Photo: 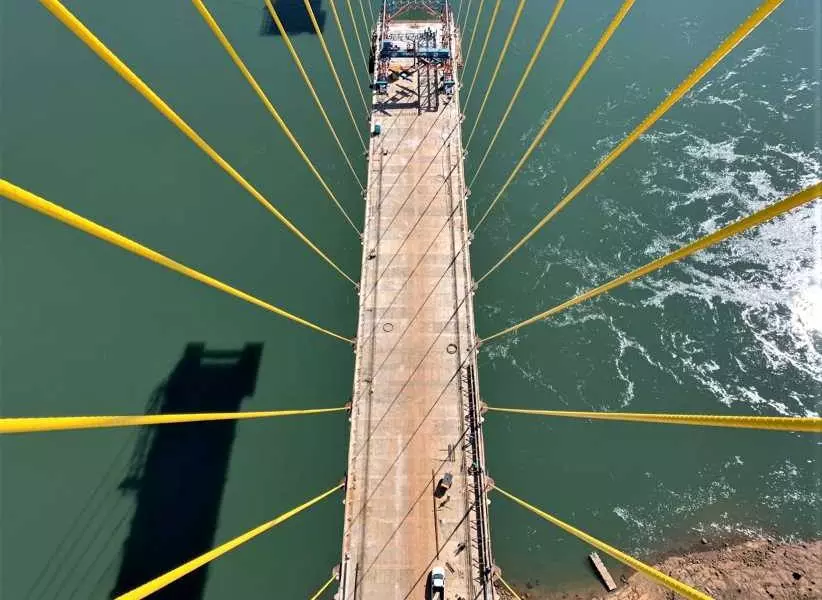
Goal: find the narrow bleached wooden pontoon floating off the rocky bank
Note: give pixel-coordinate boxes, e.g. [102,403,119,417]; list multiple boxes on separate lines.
[589,552,616,590]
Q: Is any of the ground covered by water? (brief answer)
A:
Yes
